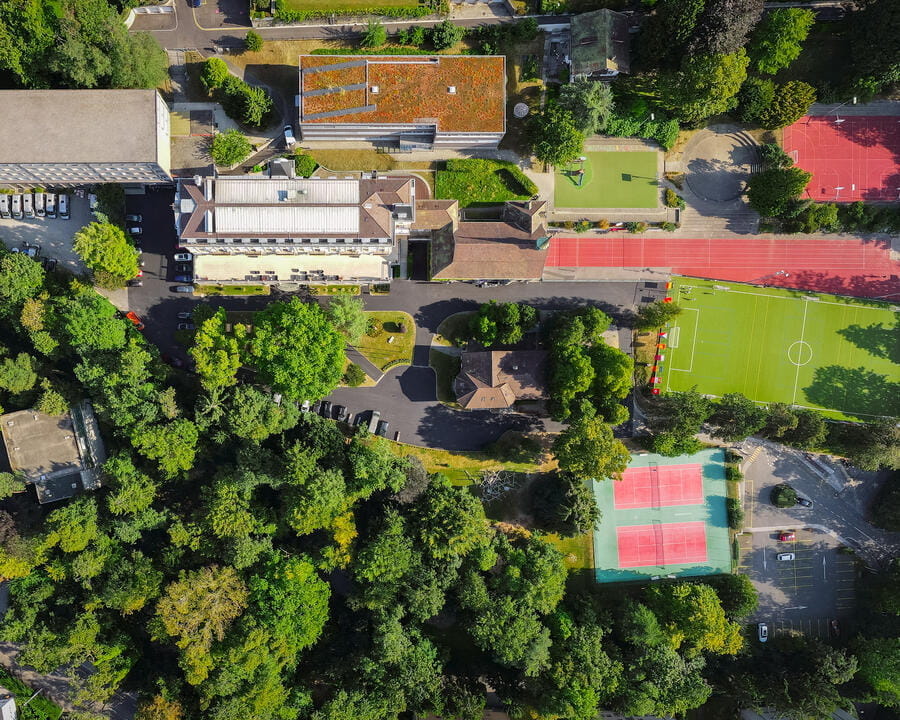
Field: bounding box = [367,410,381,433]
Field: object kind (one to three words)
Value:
vehicle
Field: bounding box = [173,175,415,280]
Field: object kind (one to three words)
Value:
building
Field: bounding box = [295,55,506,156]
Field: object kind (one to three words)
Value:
building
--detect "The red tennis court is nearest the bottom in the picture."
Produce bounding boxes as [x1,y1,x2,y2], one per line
[617,521,708,569]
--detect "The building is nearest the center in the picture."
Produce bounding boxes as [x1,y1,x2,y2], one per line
[456,351,549,412]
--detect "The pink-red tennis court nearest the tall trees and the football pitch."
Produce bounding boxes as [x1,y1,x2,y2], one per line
[613,464,703,510]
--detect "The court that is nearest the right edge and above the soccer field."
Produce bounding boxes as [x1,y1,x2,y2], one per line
[784,116,900,203]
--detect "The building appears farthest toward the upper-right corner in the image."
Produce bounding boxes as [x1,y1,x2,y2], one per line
[566,8,629,82]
